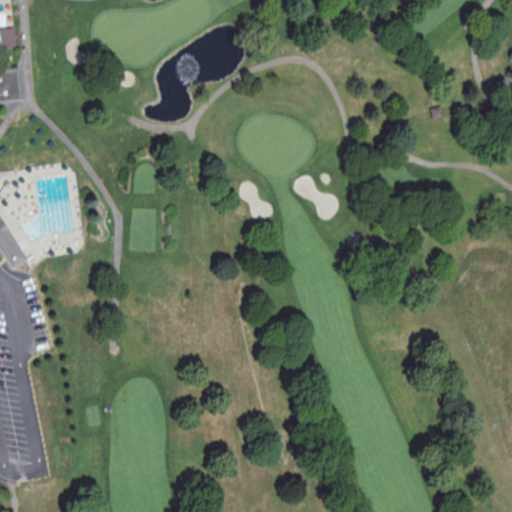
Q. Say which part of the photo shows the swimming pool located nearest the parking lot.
left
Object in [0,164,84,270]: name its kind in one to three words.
swimming pool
